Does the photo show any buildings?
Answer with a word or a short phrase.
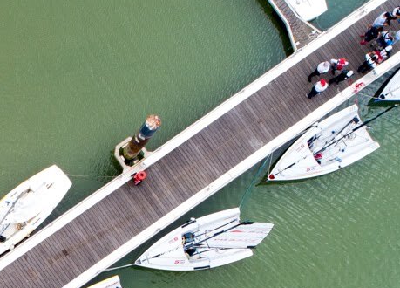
No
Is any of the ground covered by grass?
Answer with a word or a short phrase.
No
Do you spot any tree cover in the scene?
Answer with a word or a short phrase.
No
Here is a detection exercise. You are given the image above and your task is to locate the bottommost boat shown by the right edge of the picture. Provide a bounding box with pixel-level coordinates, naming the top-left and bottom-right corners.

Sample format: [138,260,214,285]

[266,103,396,182]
